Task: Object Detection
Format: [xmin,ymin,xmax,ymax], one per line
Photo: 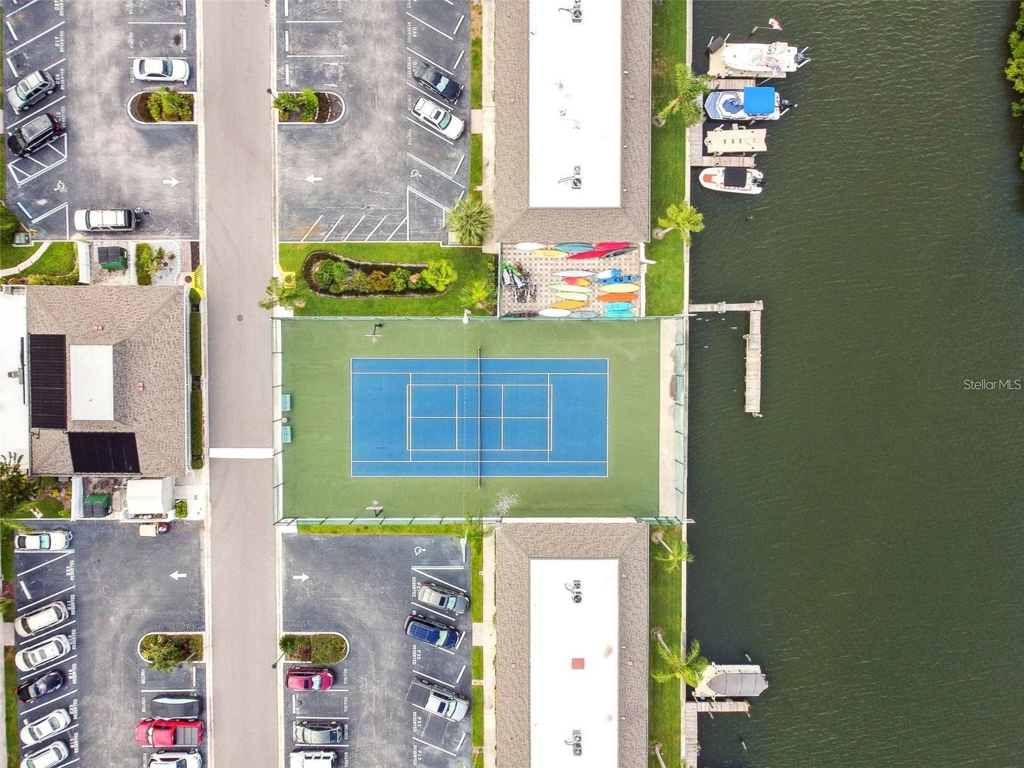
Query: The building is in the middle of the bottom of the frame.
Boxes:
[495,522,650,768]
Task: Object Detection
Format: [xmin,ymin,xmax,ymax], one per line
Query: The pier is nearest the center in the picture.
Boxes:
[689,300,763,418]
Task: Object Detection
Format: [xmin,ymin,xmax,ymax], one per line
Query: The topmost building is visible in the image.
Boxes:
[494,0,653,243]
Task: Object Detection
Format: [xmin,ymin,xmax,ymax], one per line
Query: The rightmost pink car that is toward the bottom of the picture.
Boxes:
[286,666,335,694]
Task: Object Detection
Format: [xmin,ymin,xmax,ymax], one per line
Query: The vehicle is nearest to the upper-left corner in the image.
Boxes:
[6,70,59,111]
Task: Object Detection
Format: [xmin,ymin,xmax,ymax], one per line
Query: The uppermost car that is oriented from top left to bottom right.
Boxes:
[412,62,464,105]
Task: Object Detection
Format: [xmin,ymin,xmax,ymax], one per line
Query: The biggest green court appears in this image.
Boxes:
[282,321,677,517]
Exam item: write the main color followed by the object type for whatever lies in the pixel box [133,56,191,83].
white car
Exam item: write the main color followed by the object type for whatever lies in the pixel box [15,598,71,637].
white car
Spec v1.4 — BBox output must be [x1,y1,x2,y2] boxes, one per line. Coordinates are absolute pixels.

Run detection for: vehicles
[15,529,73,554]
[74,205,135,233]
[136,718,204,749]
[8,114,66,157]
[16,633,73,672]
[290,748,338,768]
[405,679,470,720]
[286,666,335,694]
[18,737,74,768]
[149,750,204,768]
[411,96,465,140]
[136,522,172,539]
[133,56,191,83]
[412,62,464,105]
[404,615,460,650]
[6,70,59,111]
[21,706,75,745]
[417,583,470,616]
[14,667,69,706]
[15,598,71,637]
[296,720,344,748]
